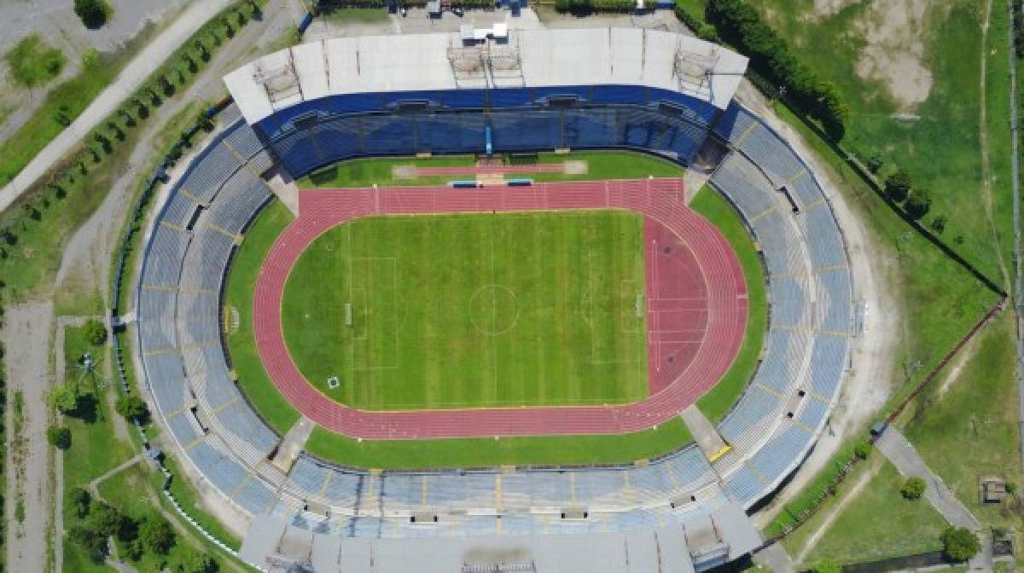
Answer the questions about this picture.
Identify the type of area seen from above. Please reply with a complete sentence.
The area seen from above is a sports ground.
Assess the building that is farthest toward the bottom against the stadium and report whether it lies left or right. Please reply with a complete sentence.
To the right of the stadium is where the building that is farthest toward the bottom appears.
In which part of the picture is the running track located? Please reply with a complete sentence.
The running track is in the center part of the image.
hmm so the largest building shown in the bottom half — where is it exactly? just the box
[990,530,1018,557]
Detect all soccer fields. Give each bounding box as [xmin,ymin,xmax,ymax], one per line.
[348,210,645,409]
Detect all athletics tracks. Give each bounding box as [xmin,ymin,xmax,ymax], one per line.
[253,178,749,440]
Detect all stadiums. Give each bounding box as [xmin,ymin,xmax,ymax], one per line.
[135,22,867,573]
